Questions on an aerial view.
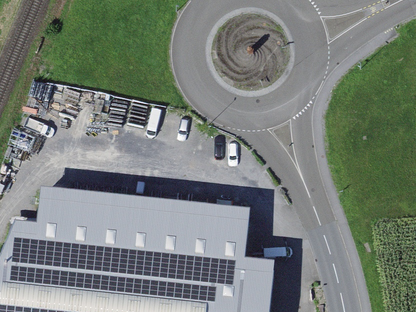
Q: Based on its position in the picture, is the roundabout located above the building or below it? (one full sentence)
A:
The roundabout is above the building.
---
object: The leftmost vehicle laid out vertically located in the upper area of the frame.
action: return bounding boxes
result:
[146,106,162,138]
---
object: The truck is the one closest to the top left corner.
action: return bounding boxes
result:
[24,118,56,139]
